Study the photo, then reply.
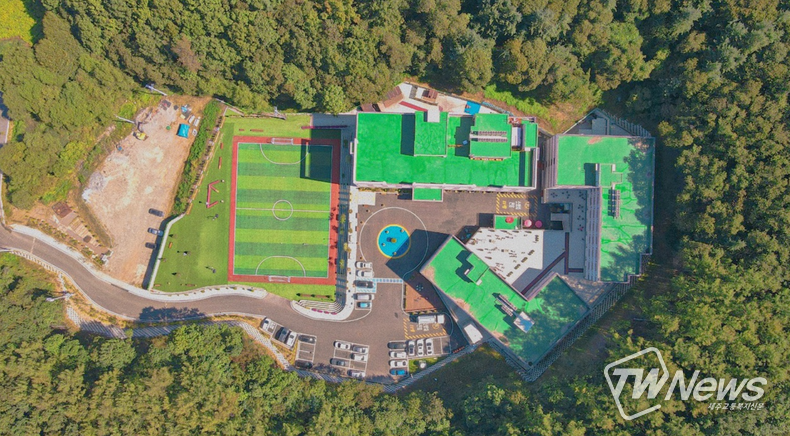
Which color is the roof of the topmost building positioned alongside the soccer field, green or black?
green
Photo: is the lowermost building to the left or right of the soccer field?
on its right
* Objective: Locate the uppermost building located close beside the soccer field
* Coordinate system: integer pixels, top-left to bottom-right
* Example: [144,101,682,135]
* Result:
[350,110,538,195]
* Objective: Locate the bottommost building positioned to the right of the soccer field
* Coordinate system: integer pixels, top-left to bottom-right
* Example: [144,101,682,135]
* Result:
[417,235,592,367]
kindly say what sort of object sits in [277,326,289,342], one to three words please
vehicle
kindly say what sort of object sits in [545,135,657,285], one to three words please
building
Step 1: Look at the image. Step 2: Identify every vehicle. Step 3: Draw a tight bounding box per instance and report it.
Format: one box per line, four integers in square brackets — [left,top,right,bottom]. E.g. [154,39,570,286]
[417,340,424,356]
[352,353,368,361]
[390,342,407,350]
[359,302,371,308]
[353,346,369,354]
[285,331,297,347]
[417,314,444,323]
[357,262,373,269]
[391,368,407,377]
[299,335,316,343]
[391,351,407,358]
[336,341,352,350]
[408,340,415,356]
[147,227,164,236]
[426,339,433,355]
[262,316,274,333]
[145,242,158,249]
[277,326,289,342]
[391,360,407,367]
[349,369,365,377]
[333,358,349,367]
[358,270,373,278]
[149,208,164,217]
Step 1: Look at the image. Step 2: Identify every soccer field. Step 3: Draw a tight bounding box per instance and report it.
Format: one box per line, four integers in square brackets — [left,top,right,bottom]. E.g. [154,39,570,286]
[228,136,340,286]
